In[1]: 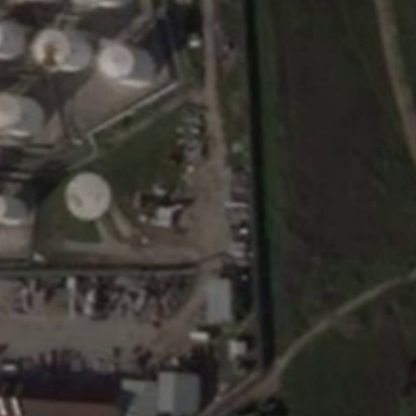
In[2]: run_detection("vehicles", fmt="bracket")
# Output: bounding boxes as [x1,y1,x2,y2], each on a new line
[190,332,212,341]
[4,364,18,371]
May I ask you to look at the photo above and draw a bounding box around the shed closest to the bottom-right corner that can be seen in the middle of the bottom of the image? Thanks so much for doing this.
[229,342,251,361]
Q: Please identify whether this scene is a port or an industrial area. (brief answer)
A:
industrial area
